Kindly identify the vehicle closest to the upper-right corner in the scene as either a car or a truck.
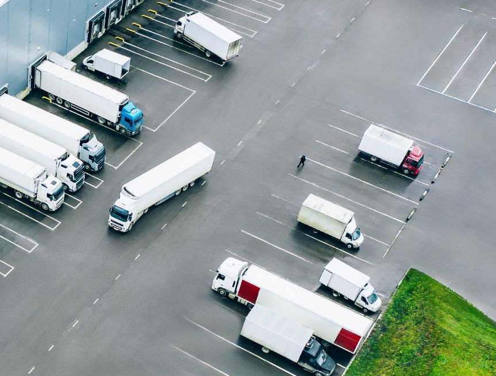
truck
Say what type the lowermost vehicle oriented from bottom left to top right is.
truck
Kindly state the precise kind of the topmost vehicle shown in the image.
truck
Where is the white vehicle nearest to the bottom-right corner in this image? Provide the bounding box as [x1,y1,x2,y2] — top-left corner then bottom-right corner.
[318,258,381,312]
